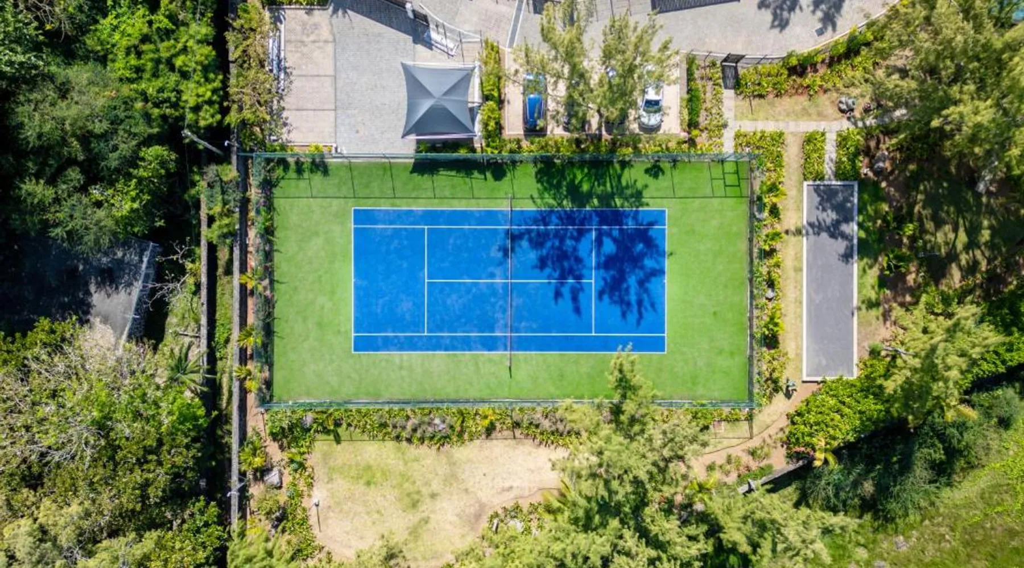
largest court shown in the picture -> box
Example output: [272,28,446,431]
[269,159,748,403]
